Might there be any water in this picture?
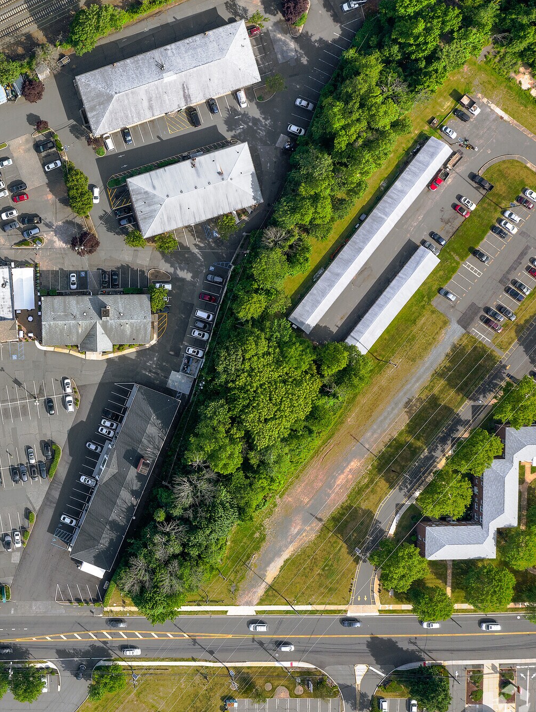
No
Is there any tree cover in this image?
Yes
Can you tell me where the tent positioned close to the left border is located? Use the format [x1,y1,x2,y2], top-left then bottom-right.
[11,267,35,309]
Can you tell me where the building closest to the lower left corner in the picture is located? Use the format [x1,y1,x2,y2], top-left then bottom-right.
[70,384,181,577]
